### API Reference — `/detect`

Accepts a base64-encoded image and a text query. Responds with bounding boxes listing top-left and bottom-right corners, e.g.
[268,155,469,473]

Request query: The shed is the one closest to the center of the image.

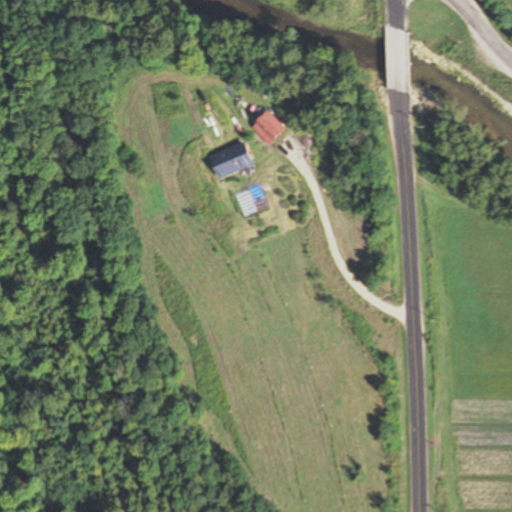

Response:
[236,184,269,218]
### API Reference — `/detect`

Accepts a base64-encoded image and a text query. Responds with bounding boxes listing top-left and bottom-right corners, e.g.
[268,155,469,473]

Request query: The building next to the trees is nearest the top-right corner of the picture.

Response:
[252,110,285,143]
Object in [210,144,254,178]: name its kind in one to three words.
house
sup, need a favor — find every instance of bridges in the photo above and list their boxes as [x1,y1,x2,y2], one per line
[385,24,412,94]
